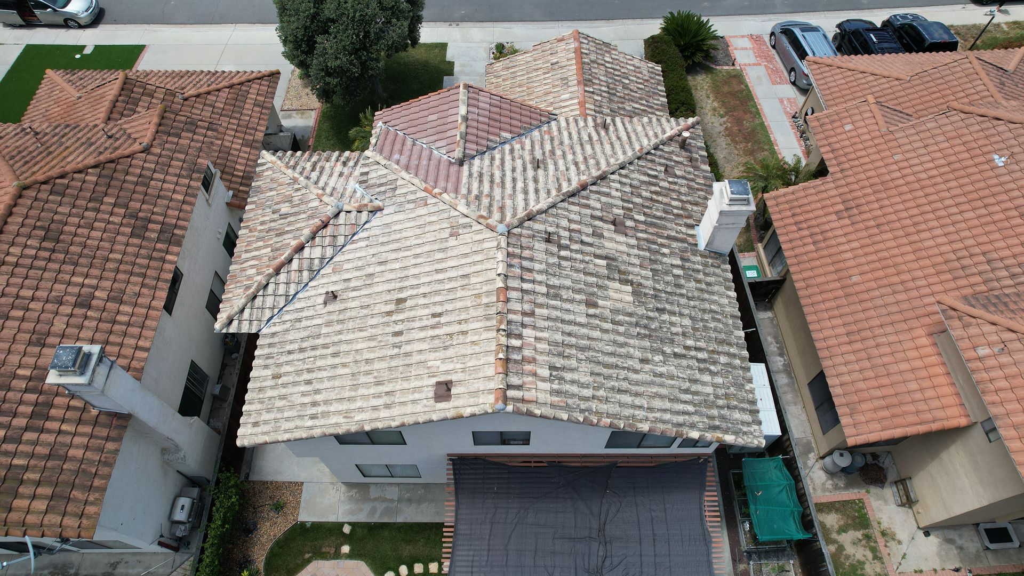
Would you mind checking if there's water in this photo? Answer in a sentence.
No, there's no water in this view.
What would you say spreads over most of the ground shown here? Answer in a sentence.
Most of the picture is covered by buildings.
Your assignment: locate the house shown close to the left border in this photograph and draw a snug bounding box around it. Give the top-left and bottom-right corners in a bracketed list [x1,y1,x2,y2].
[0,65,287,556]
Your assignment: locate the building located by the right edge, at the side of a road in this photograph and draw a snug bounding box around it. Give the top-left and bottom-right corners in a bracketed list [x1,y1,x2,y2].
[752,45,1024,526]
